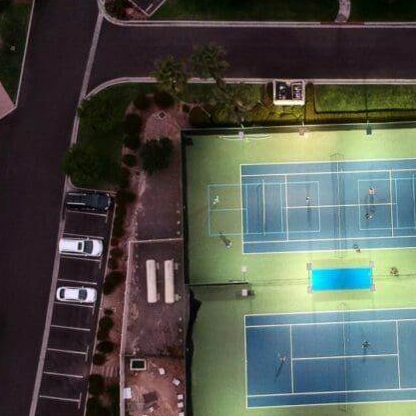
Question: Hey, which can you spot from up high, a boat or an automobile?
automobile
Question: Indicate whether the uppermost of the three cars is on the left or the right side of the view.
left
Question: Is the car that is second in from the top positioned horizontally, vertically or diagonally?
horizontally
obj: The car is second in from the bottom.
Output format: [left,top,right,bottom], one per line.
[58,236,104,257]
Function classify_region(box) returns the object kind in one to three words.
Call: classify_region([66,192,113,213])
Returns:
car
